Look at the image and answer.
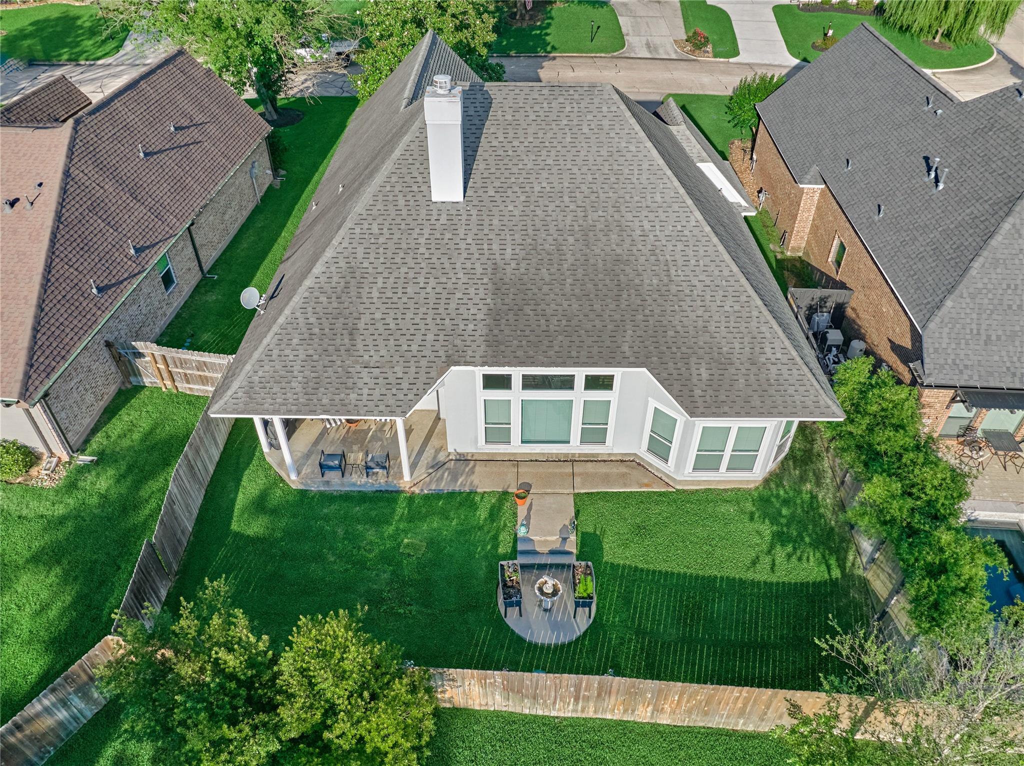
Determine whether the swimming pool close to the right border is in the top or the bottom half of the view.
bottom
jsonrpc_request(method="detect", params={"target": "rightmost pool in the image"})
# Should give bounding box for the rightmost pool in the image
[975,518,1024,651]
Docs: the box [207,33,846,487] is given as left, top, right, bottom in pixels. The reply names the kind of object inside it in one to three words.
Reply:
house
